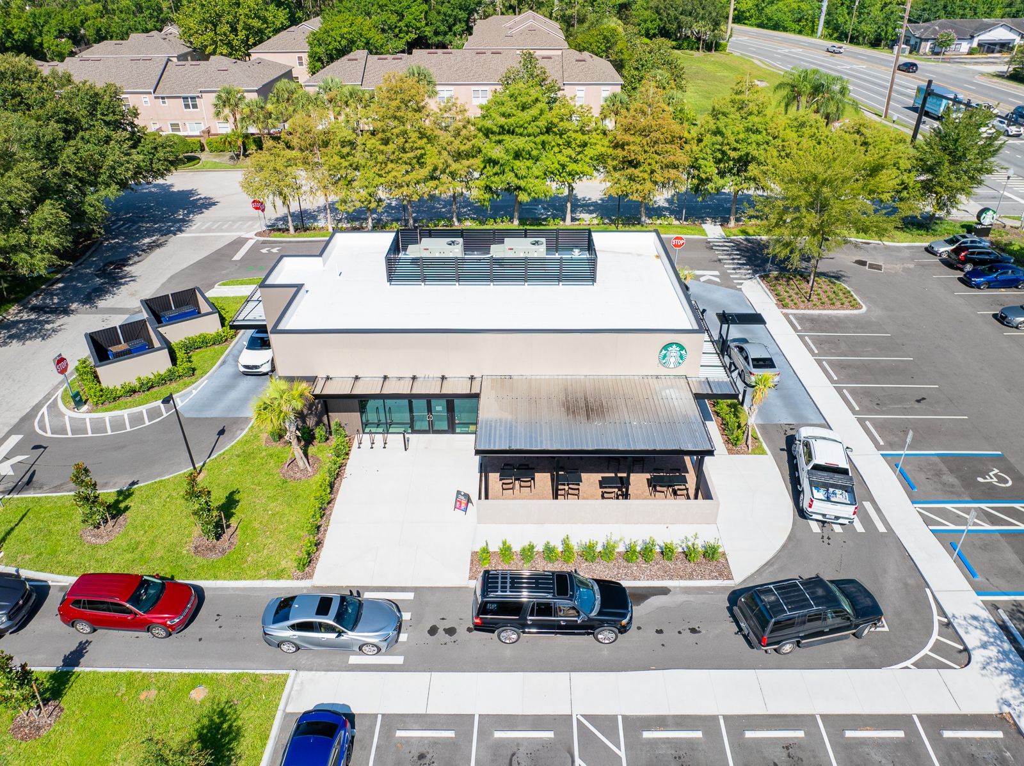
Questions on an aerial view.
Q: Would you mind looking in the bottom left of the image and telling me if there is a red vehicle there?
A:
Yes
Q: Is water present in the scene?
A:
No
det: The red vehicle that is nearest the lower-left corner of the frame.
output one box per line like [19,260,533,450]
[53,569,197,639]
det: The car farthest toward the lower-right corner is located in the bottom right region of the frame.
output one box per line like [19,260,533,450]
[729,572,890,654]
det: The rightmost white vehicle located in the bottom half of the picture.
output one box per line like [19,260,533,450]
[793,426,863,528]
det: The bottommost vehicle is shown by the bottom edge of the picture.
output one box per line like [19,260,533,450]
[270,708,343,766]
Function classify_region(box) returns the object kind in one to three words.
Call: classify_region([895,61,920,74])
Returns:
vehicle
